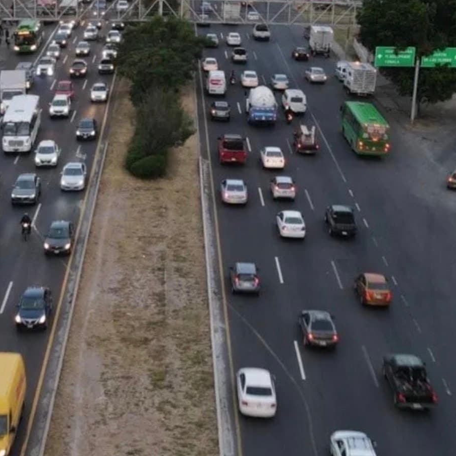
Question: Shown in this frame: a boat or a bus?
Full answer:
The one in the frame is a bus.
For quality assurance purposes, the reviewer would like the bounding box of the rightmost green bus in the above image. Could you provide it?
[343,99,390,150]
